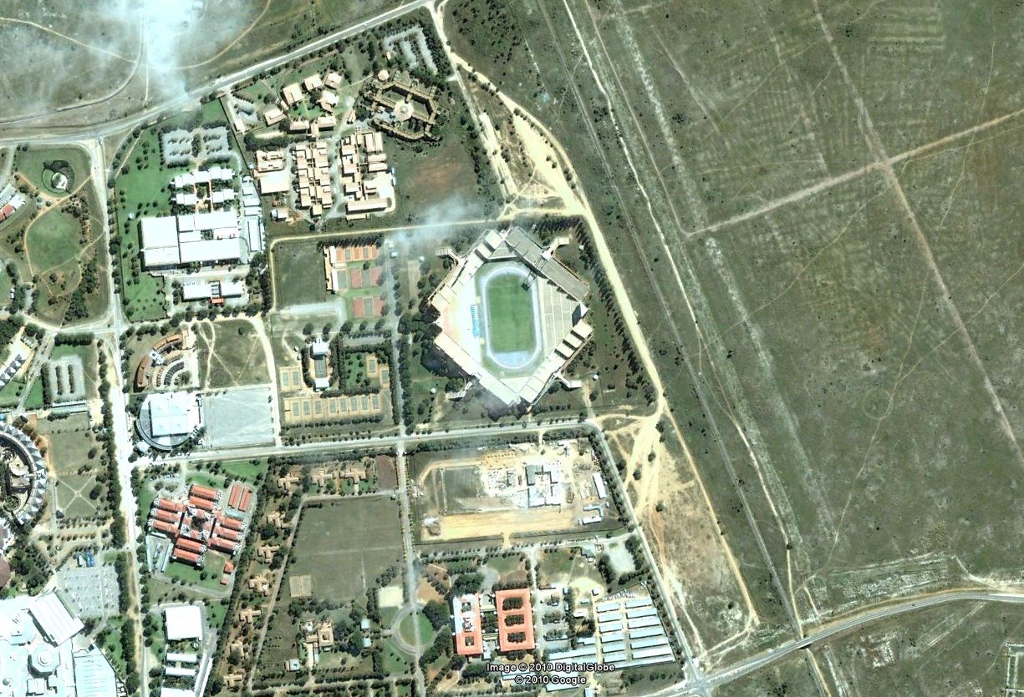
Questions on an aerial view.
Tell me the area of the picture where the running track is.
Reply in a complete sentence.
The running track appears toward the center of the photo.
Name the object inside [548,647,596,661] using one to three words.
shed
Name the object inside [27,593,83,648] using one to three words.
building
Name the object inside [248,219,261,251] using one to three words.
shed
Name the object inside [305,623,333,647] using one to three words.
house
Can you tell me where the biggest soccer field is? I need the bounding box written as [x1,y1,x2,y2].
[488,274,532,365]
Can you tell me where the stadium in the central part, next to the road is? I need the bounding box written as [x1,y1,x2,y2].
[426,225,594,407]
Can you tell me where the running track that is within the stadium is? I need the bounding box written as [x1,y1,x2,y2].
[481,266,539,371]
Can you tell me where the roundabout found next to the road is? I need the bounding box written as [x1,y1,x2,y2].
[393,609,437,653]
